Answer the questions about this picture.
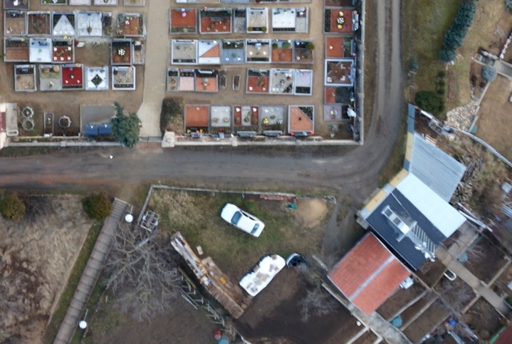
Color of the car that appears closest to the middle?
white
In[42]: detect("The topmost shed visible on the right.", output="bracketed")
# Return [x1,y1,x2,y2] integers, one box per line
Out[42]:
[406,131,466,202]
